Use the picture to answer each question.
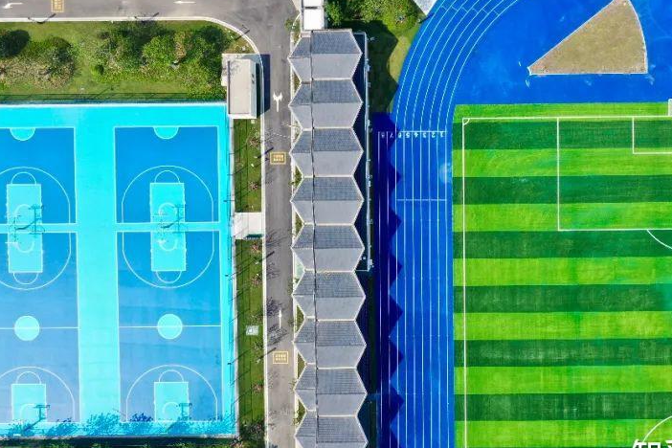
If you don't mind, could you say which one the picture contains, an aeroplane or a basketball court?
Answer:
basketball court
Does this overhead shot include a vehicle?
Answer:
No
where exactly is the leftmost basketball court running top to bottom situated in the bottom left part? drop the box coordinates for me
[0,232,80,422]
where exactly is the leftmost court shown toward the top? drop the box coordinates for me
[0,127,76,223]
